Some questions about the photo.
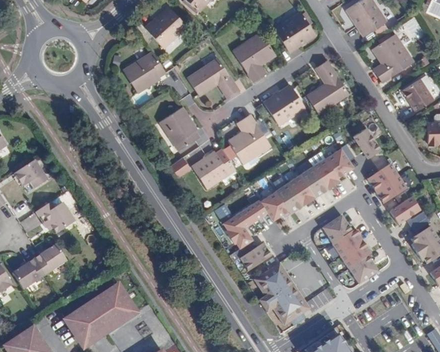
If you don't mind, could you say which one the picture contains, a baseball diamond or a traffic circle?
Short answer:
traffic circle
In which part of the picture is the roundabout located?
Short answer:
top left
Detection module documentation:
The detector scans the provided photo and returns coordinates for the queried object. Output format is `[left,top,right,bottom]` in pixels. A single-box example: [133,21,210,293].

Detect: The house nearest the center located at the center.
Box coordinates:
[194,144,238,190]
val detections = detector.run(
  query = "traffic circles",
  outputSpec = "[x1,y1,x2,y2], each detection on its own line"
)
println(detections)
[22,18,98,94]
